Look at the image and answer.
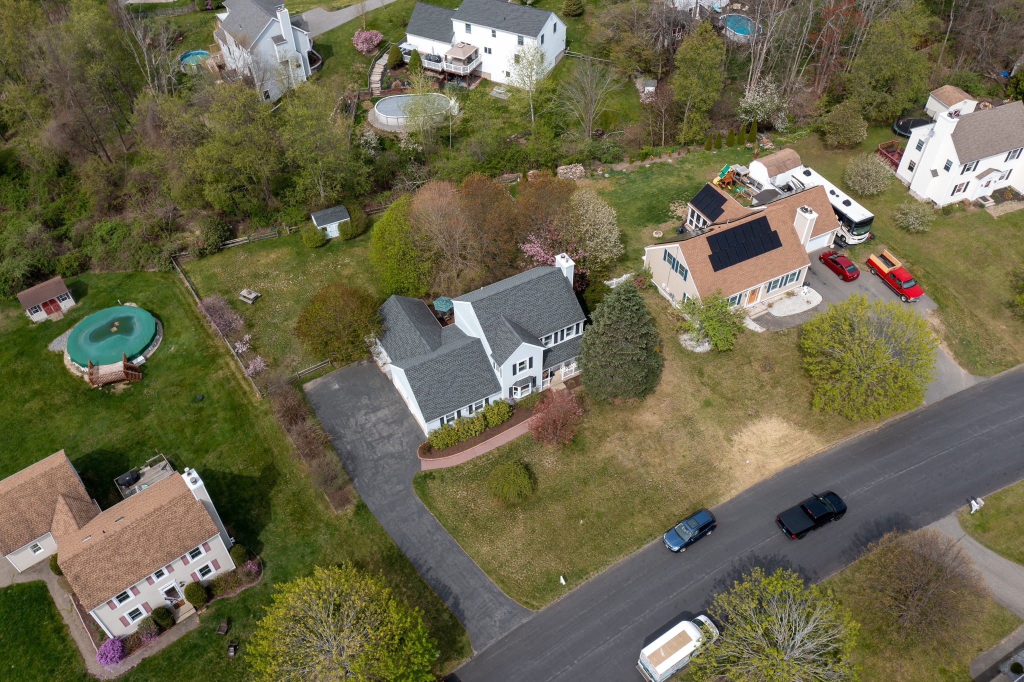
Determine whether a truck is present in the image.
Yes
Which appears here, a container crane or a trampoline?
trampoline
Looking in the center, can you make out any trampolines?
No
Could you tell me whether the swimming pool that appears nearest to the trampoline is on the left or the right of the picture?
right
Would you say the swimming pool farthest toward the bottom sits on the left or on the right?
left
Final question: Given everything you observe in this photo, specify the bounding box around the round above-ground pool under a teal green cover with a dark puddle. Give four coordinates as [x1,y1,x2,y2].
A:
[64,304,160,374]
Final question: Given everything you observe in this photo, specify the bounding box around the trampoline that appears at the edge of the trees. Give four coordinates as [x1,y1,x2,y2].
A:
[892,107,935,141]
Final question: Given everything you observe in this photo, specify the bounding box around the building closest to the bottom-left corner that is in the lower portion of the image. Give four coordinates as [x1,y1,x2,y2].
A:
[0,448,233,639]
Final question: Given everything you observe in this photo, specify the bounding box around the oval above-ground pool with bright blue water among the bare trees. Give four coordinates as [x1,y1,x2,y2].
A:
[719,13,759,44]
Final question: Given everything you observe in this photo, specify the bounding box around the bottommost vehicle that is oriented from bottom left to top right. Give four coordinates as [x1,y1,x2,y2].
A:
[632,614,722,682]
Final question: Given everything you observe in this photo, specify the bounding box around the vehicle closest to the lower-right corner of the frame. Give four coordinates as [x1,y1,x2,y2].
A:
[777,491,853,540]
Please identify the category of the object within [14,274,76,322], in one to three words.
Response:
shed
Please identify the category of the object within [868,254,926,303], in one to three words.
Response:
truck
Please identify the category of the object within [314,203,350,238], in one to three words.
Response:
shed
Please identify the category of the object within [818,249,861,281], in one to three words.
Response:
car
